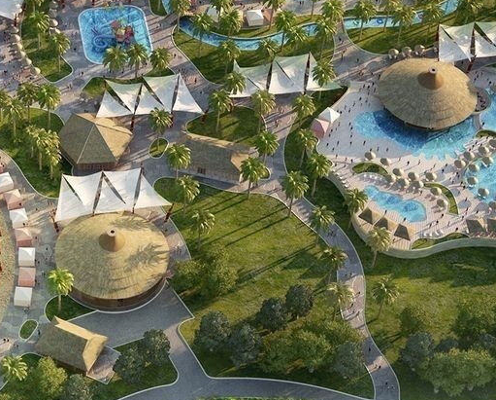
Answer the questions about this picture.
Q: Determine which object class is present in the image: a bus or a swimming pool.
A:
swimming pool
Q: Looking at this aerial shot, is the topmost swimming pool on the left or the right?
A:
left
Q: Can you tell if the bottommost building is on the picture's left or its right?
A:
left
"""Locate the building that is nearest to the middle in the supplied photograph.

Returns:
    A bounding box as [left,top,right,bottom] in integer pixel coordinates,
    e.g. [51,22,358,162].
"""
[180,136,256,180]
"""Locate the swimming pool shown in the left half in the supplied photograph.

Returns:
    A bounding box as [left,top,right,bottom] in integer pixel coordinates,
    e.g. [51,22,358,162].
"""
[83,4,151,61]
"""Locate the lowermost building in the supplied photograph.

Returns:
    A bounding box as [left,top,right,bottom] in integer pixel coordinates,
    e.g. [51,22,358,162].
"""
[35,317,106,378]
